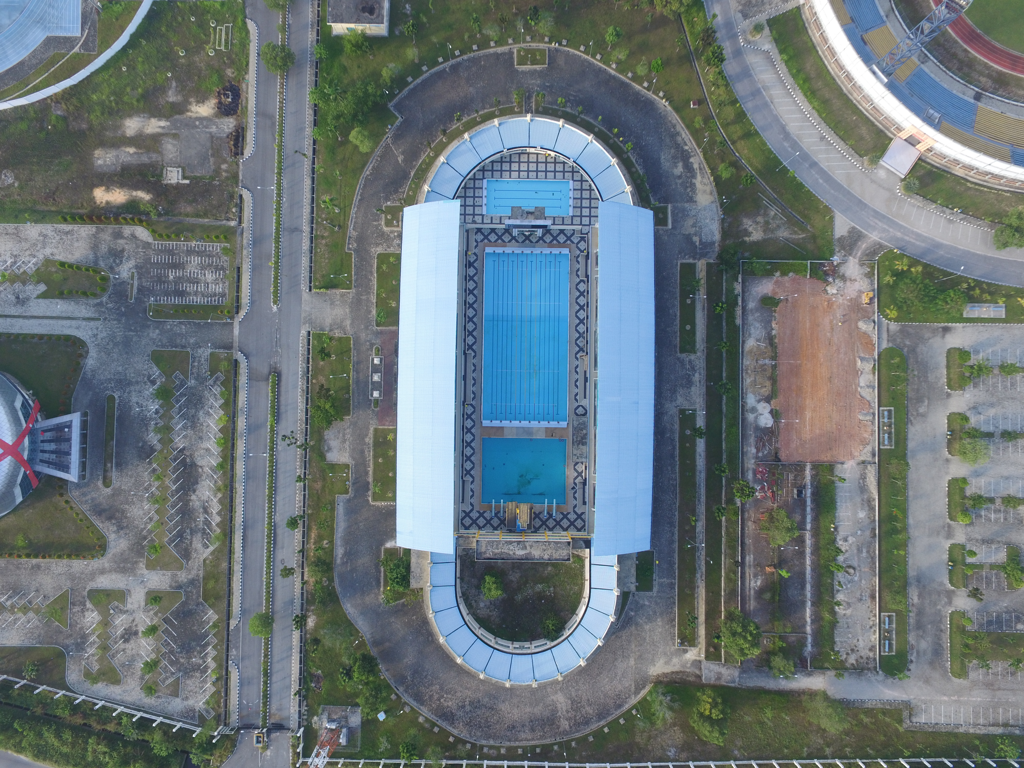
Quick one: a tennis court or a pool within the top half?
pool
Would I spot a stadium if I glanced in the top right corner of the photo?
Yes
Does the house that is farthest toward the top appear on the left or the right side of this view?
left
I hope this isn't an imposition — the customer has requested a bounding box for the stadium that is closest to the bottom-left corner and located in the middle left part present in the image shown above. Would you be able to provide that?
[0,367,90,539]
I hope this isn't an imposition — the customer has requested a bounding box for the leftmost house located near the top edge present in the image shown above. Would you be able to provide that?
[326,0,390,36]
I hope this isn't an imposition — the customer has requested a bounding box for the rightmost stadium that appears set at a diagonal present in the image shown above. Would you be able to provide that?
[798,0,1024,192]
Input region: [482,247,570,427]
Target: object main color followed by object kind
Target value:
blue swimming pool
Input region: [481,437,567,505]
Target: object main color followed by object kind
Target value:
blue swimming pool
